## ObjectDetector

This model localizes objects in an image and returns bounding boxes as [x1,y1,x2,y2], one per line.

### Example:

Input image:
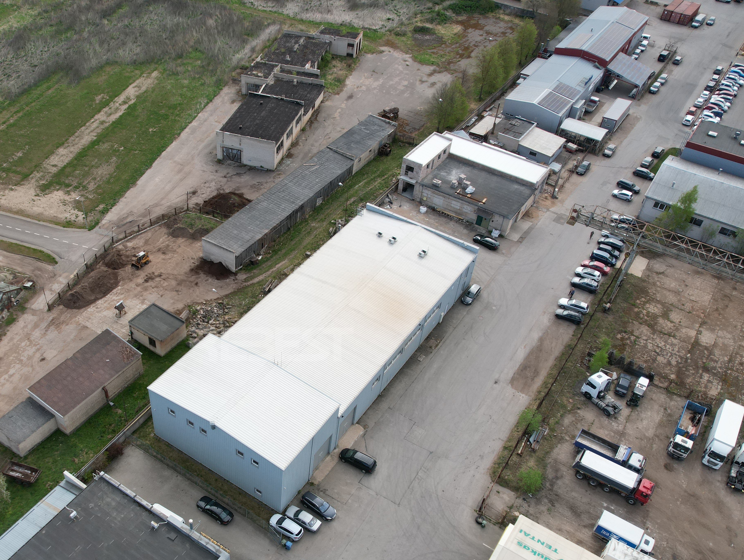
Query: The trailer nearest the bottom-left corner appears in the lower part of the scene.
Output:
[0,458,42,485]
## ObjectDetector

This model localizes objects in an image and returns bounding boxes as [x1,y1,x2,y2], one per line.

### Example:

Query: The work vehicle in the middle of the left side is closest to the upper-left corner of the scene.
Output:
[130,250,151,272]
